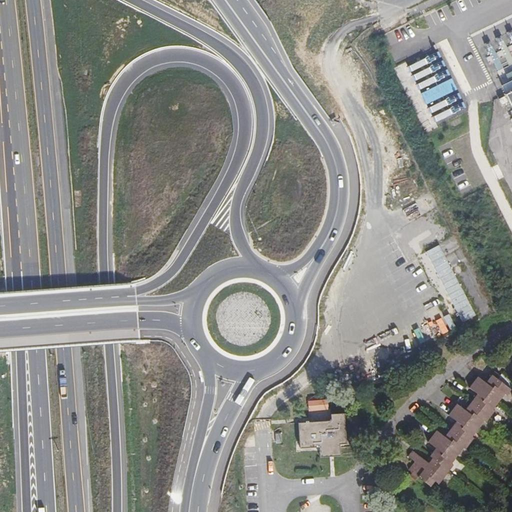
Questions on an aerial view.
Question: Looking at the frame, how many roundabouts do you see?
1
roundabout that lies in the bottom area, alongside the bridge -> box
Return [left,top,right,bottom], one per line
[182,256,306,381]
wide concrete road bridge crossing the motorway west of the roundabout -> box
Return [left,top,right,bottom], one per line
[0,282,140,351]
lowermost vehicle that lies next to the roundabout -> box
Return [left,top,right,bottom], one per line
[234,377,256,406]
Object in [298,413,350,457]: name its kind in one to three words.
building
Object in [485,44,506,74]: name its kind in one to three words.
truck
